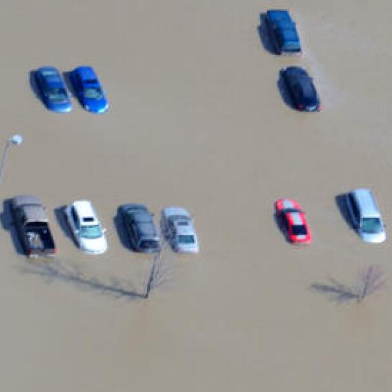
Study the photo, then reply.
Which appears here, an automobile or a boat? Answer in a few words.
automobile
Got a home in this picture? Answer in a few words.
No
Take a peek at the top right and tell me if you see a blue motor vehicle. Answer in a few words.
Yes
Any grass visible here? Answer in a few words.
No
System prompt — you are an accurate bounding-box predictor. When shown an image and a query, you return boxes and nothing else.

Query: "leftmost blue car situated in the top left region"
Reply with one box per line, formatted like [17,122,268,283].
[37,65,71,113]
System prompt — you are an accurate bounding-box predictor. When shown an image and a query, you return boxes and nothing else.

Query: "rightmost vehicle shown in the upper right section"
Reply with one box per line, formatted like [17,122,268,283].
[288,69,325,111]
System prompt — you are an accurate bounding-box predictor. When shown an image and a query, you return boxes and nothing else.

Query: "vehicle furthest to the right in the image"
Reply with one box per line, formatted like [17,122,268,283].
[346,187,388,243]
